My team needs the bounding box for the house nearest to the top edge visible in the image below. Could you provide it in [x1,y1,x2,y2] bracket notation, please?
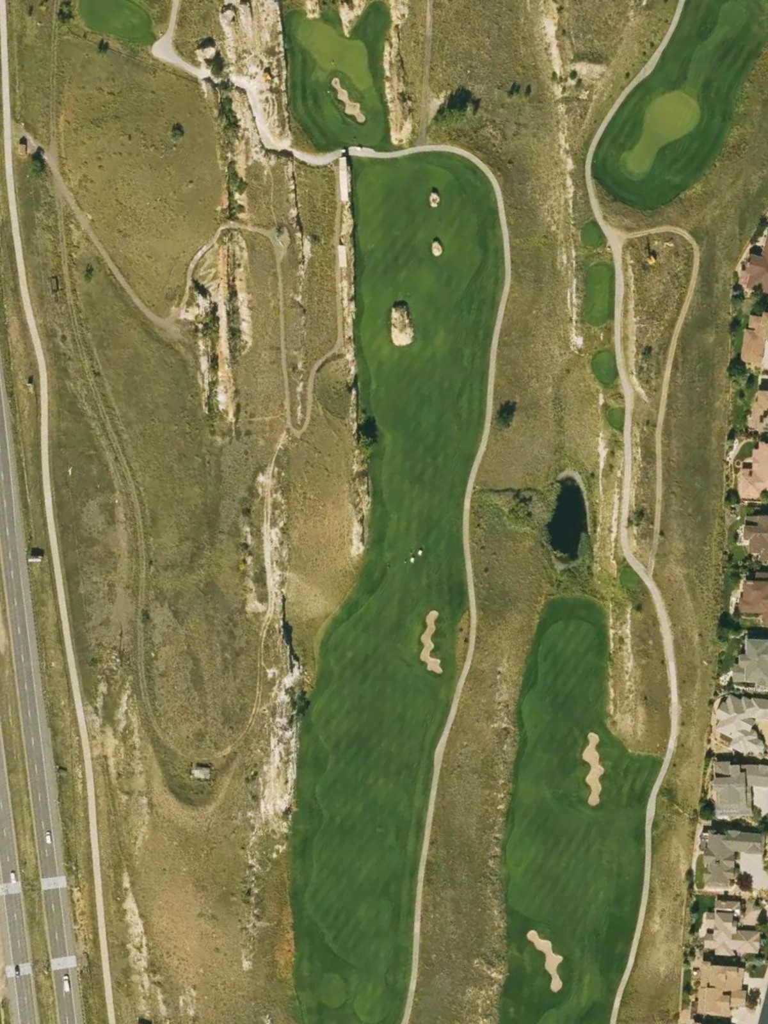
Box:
[736,239,768,290]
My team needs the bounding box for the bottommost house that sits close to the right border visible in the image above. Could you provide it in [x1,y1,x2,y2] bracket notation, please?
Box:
[697,960,747,1018]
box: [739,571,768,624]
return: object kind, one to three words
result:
house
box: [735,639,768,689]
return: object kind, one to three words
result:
house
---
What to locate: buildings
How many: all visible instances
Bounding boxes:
[744,514,768,558]
[746,377,768,430]
[736,239,768,290]
[697,960,747,1018]
[739,571,768,624]
[735,639,768,689]
[701,829,766,889]
[712,693,768,751]
[741,311,768,364]
[192,766,211,777]
[701,897,762,956]
[714,762,768,818]
[738,444,768,498]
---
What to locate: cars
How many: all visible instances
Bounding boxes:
[63,976,69,991]
[45,832,51,843]
[15,966,20,977]
[10,872,16,884]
